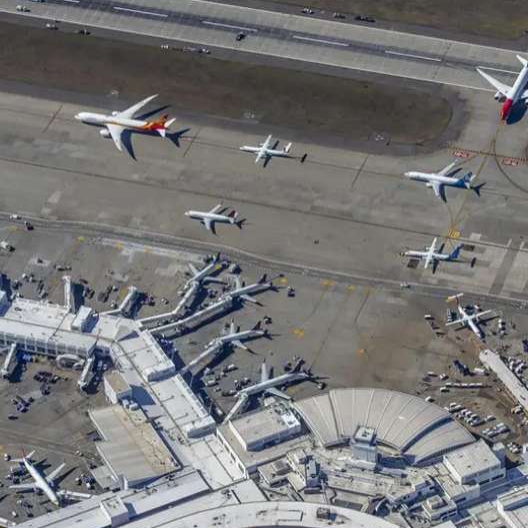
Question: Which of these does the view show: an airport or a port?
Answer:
airport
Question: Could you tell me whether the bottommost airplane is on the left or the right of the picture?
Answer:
left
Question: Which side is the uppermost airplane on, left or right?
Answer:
right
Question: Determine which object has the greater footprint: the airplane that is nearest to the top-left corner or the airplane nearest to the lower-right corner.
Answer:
the airplane that is nearest to the top-left corner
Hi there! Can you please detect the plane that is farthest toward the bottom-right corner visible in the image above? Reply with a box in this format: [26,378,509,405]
[445,294,492,338]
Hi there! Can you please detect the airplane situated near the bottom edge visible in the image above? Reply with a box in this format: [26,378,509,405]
[6,448,67,507]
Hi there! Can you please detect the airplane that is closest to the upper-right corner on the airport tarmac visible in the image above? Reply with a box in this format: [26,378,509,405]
[476,56,528,120]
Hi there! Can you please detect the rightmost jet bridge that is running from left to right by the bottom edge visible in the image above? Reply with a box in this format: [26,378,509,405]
[55,489,94,503]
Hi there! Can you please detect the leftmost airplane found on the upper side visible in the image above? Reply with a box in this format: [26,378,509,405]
[78,96,180,151]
